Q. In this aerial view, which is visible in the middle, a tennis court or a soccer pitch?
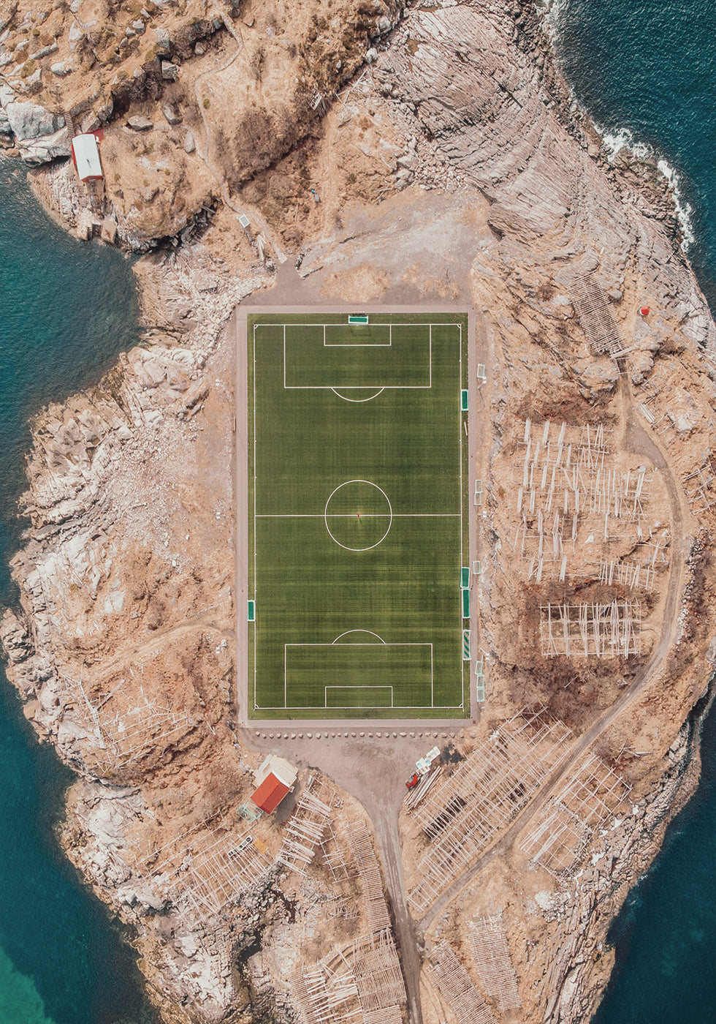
soccer pitch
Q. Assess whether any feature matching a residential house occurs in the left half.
Yes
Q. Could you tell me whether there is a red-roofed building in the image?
Yes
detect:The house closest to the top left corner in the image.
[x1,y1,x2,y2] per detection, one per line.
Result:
[70,133,106,185]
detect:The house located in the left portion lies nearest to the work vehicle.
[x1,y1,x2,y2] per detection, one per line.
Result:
[251,771,291,814]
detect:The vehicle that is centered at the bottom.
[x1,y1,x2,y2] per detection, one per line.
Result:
[404,773,421,792]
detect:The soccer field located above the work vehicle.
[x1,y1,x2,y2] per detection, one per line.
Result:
[248,314,469,719]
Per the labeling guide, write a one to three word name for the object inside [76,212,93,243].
pier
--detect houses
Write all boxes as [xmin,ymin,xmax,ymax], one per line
[70,133,106,185]
[251,771,291,814]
